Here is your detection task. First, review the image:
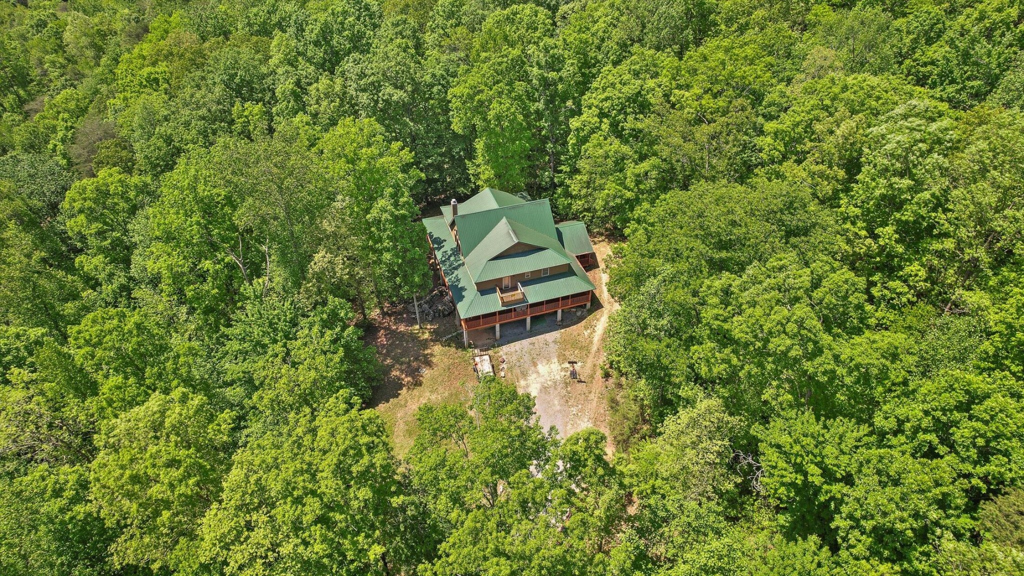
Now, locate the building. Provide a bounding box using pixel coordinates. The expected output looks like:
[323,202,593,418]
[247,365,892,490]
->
[424,185,597,331]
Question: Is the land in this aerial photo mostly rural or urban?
rural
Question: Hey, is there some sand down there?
No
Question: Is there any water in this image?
No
